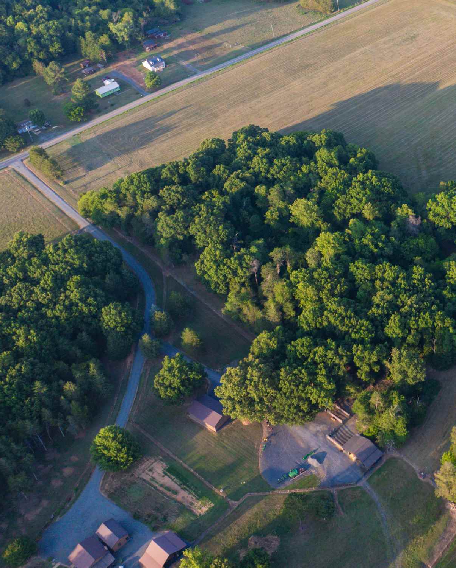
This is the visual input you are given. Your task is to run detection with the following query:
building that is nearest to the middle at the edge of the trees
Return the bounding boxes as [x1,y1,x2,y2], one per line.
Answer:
[188,396,223,435]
